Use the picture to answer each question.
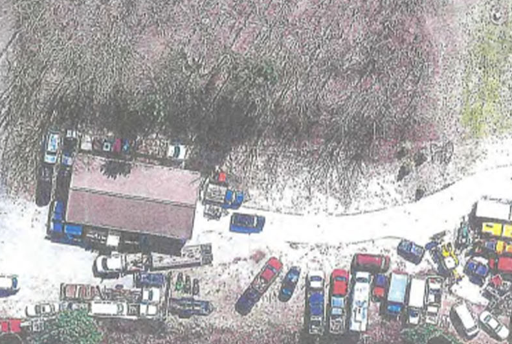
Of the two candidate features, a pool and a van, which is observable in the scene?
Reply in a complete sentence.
There is a van in the scene.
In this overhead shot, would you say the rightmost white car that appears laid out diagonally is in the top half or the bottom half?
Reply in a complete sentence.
It is in the bottom half that the rightmost white car that appears laid out diagonally appears.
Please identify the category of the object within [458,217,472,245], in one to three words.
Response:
vehicle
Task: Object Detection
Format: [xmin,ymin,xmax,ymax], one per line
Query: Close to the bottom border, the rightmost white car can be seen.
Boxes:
[478,308,512,341]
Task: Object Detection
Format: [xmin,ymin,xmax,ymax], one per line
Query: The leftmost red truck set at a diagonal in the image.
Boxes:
[249,259,281,298]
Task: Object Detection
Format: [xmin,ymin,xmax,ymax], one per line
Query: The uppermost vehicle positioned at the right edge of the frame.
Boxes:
[474,198,512,222]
